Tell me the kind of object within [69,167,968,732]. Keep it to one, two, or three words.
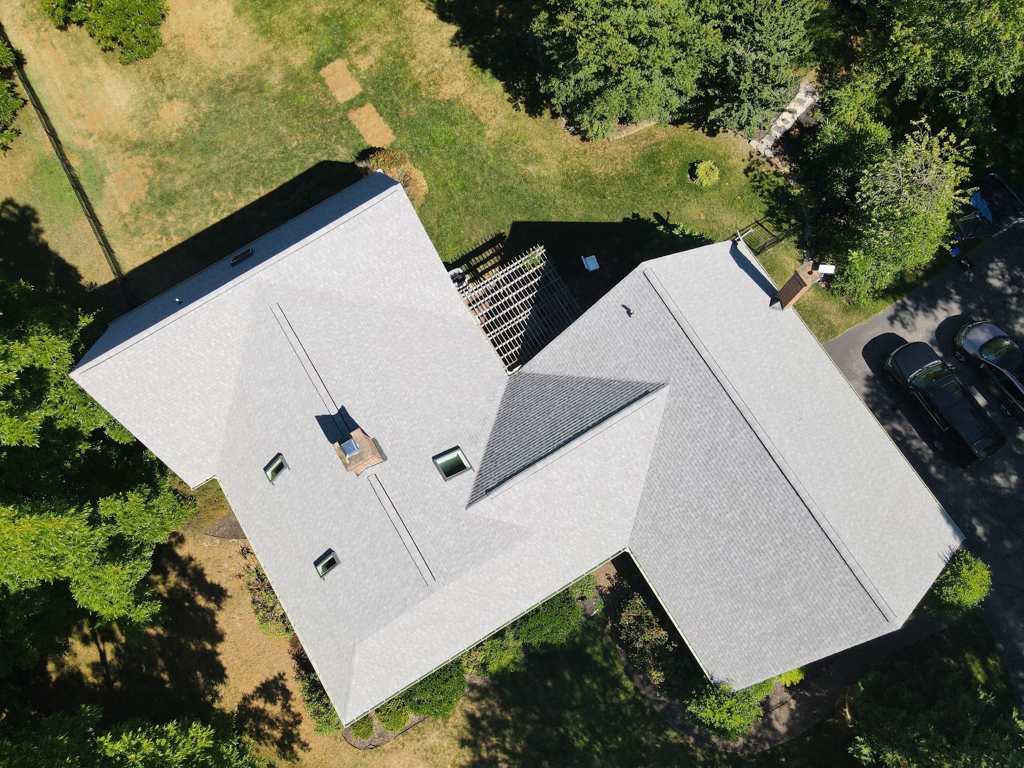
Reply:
house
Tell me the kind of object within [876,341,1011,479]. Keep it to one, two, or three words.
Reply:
car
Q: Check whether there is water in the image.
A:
No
